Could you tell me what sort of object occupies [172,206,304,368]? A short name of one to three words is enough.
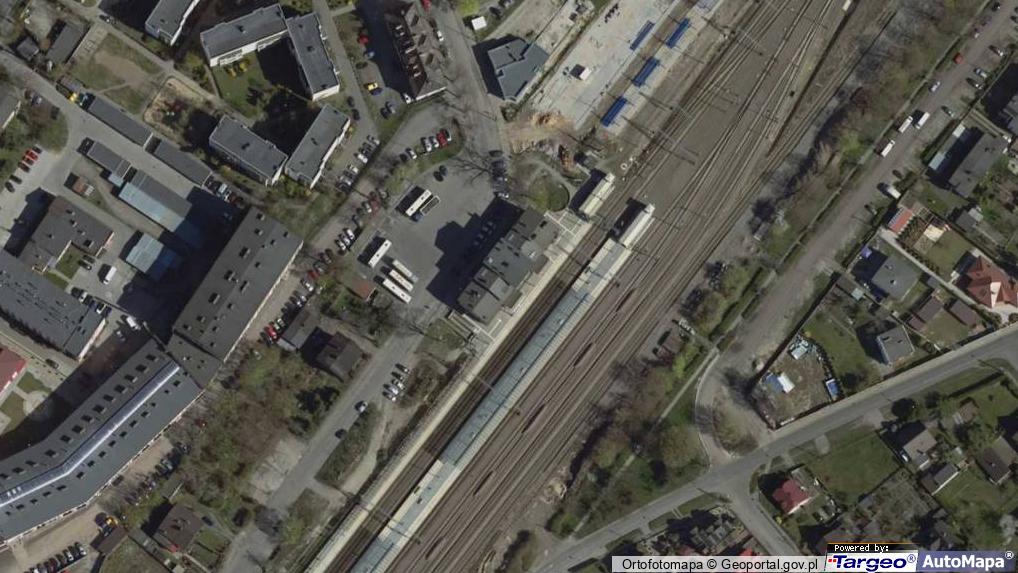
building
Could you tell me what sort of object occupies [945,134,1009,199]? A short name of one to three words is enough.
house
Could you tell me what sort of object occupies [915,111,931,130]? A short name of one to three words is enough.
vehicle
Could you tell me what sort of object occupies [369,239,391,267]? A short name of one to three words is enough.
bus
